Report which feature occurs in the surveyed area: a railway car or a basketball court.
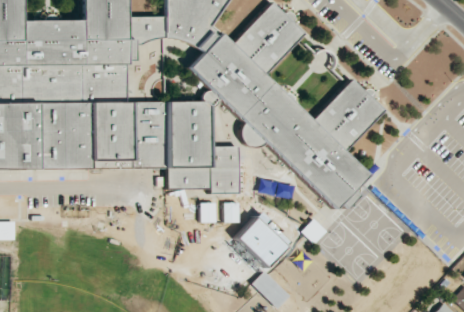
basketball court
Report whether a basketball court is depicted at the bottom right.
Yes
